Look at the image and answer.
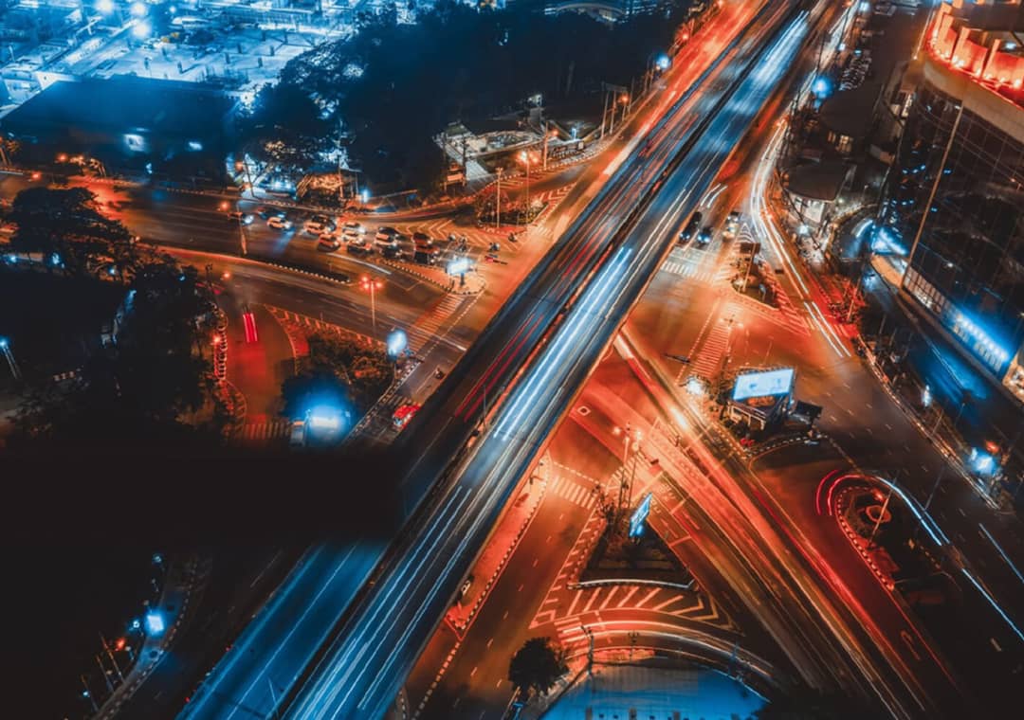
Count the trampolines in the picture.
none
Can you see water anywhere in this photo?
No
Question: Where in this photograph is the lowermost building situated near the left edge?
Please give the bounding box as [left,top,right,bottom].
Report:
[0,92,262,190]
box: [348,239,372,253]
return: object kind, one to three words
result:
car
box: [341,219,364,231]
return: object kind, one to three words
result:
vehicle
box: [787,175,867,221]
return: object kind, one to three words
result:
building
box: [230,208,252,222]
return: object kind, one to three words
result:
car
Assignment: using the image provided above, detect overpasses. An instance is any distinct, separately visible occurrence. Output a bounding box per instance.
[167,0,833,720]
